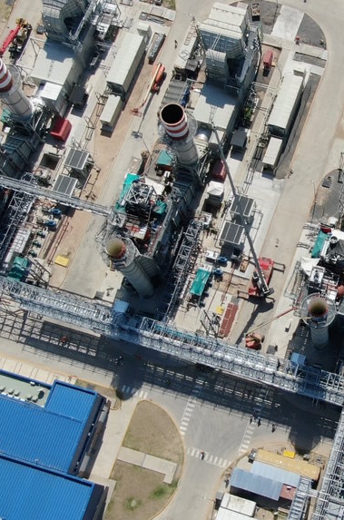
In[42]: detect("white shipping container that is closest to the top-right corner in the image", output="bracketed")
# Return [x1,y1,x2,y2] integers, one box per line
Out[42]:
[264,64,310,139]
